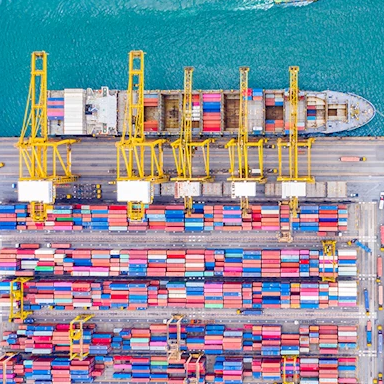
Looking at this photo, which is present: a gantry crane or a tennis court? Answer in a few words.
gantry crane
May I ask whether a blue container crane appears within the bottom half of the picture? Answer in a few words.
No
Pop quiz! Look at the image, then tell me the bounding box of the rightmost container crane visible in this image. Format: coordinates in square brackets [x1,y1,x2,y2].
[317,241,336,286]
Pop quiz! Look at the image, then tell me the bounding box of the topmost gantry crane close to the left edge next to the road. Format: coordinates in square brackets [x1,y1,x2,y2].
[16,50,87,228]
